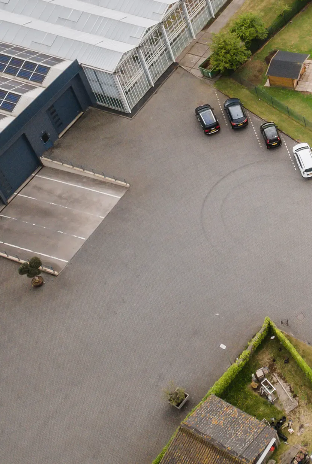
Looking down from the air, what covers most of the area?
paved ground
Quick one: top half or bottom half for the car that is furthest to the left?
top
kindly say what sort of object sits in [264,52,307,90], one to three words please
shed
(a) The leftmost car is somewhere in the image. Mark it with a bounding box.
[193,103,220,136]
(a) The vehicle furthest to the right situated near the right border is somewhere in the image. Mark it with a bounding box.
[292,143,312,179]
